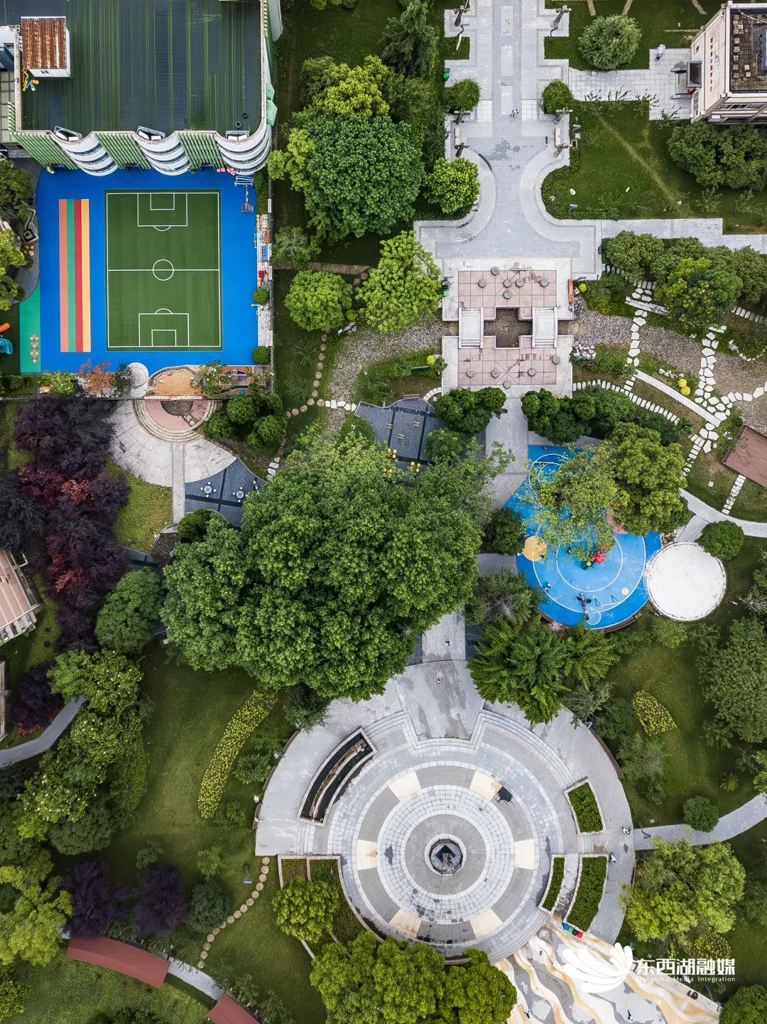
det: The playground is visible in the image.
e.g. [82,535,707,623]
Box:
[503,445,661,629]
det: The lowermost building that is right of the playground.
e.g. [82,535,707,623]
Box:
[709,425,767,490]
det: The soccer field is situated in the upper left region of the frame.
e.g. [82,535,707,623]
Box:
[104,188,223,352]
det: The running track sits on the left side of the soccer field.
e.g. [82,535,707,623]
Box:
[58,199,90,352]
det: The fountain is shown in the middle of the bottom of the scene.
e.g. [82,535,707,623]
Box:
[425,834,467,877]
